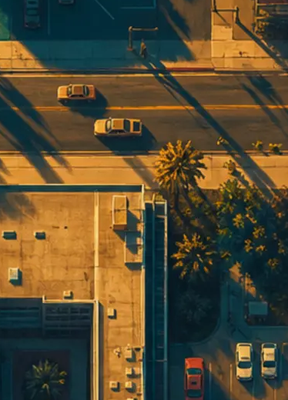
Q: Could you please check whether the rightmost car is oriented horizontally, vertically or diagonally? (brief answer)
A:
vertically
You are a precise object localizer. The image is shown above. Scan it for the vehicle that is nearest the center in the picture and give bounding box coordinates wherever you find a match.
[94,118,143,137]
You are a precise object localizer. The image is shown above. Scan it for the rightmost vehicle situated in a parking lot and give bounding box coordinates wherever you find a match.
[259,343,280,381]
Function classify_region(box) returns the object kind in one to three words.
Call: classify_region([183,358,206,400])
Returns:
car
